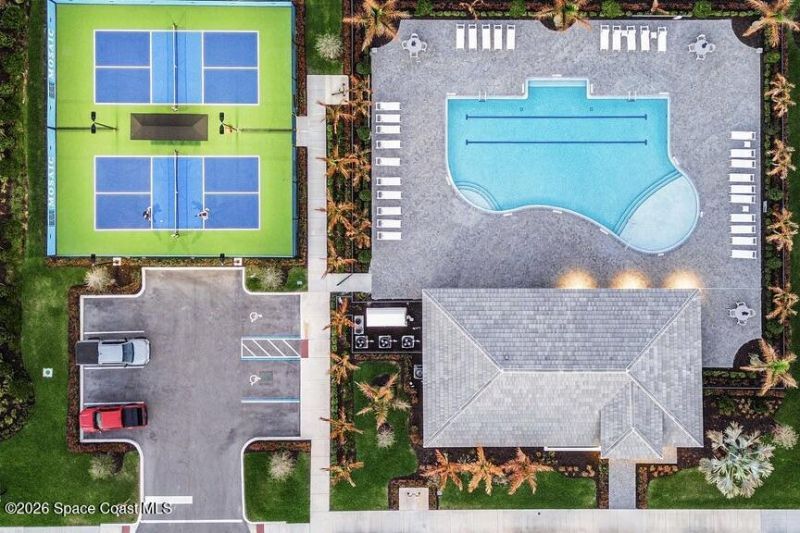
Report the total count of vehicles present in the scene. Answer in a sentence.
The count of vehicles comes to 2.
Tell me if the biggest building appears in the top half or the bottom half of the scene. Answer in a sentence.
It is in the bottom half that the biggest building appears.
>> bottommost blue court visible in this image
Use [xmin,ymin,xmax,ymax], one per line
[94,156,259,231]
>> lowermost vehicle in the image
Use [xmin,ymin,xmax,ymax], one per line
[79,405,149,435]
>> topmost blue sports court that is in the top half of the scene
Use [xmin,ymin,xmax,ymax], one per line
[94,30,259,104]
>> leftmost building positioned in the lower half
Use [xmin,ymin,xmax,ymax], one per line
[422,288,705,460]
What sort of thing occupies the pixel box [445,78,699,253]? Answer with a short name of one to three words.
swimming pool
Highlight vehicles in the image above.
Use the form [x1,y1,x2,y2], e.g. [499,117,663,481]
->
[79,405,149,435]
[76,338,151,368]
